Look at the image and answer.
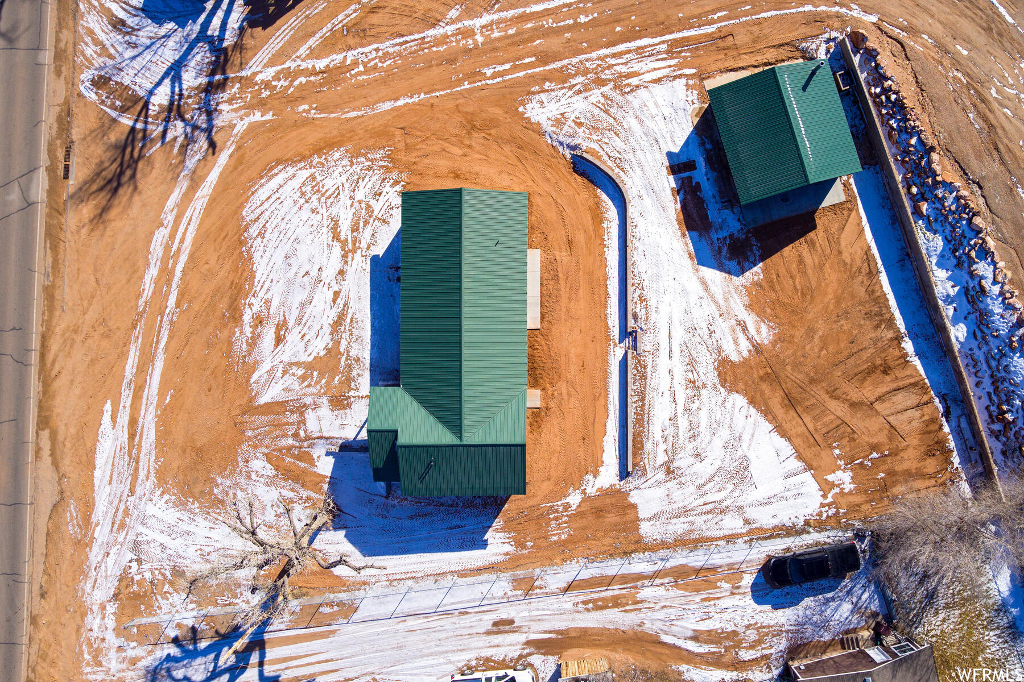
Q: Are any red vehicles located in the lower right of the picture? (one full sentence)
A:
No, no red vehicle can be made out in the lower right of the picture.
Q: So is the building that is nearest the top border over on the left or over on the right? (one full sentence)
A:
The building that is nearest the top border is on the right side of the image.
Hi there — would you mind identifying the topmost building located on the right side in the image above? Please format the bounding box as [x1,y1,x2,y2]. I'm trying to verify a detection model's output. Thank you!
[705,55,861,208]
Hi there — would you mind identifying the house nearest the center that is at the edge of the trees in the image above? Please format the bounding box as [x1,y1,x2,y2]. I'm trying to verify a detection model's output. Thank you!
[364,185,530,496]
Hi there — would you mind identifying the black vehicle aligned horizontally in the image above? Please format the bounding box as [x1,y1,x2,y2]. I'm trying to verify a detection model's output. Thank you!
[761,540,862,592]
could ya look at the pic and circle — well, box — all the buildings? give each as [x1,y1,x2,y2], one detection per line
[705,55,861,208]
[784,631,942,682]
[364,185,530,496]
[560,657,612,682]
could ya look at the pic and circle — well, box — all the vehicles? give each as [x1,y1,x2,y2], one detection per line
[447,664,539,682]
[761,540,862,592]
